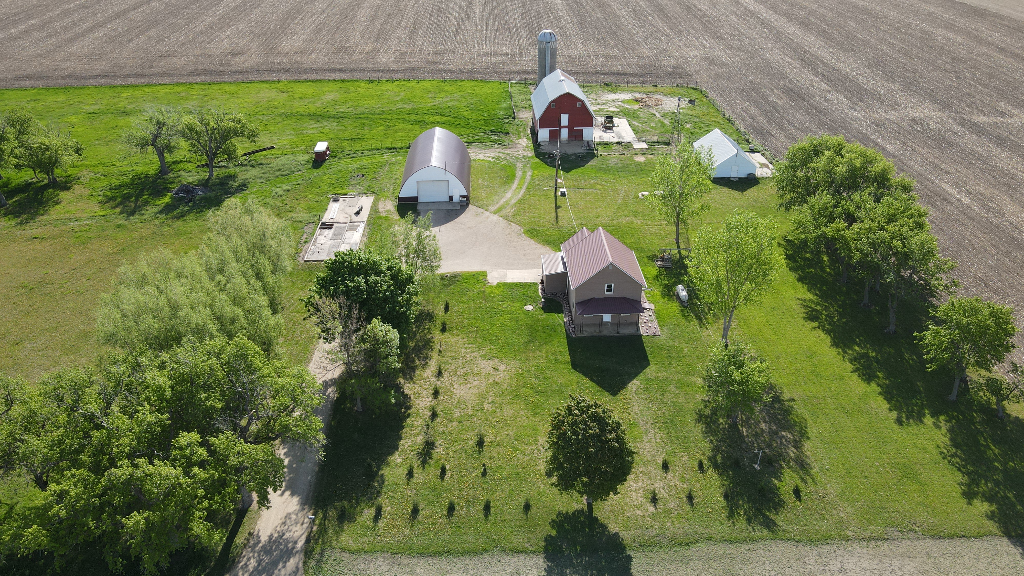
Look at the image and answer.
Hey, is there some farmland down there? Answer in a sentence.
Yes, farmland can be seen from above here.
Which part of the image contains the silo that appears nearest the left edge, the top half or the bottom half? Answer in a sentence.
It is in the top half that the silo that appears nearest the left edge appears.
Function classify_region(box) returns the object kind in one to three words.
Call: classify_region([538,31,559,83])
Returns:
silo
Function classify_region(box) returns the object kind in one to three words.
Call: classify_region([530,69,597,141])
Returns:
barn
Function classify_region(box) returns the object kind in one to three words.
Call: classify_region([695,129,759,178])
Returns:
shed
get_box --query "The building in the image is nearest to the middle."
[541,226,649,336]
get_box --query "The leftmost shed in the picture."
[397,126,472,203]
